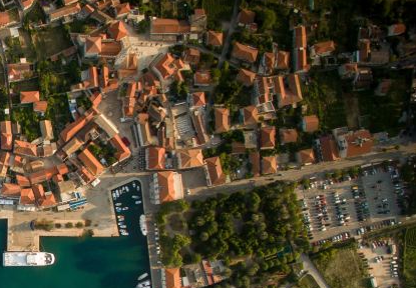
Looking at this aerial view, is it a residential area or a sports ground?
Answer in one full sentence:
This image shows a residential area.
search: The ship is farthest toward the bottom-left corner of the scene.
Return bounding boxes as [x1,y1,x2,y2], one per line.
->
[1,252,55,265]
